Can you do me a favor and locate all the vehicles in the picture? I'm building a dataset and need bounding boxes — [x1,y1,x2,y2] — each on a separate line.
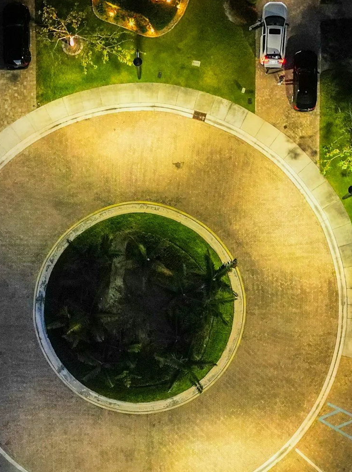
[0,3,34,71]
[290,50,322,114]
[247,2,290,70]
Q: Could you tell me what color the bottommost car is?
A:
black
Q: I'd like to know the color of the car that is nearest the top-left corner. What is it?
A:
black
